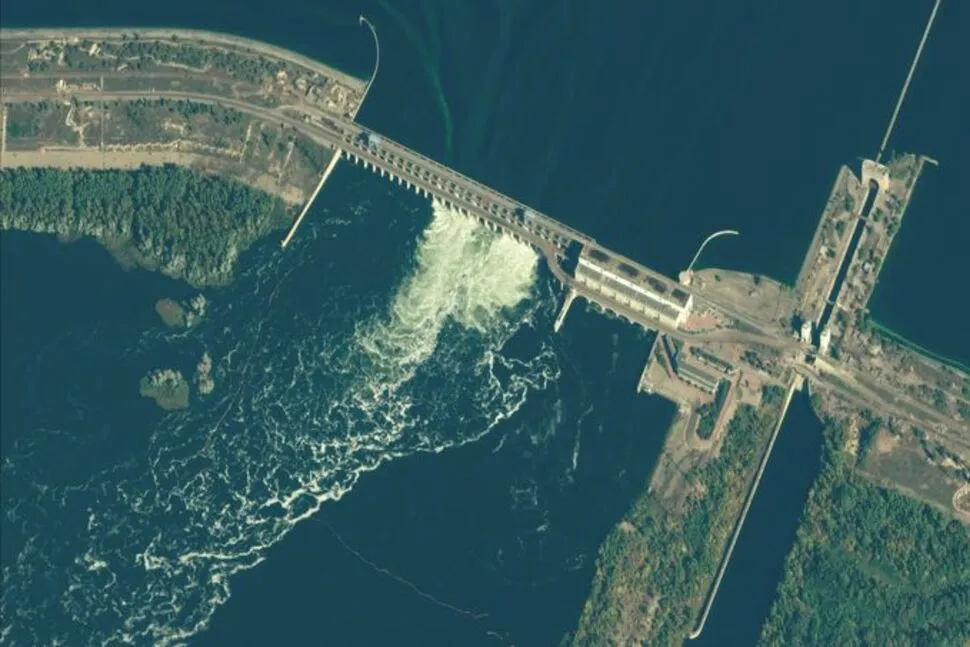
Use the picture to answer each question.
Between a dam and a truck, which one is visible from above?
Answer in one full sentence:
The image shows a dam.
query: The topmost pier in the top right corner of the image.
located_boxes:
[884,0,942,148]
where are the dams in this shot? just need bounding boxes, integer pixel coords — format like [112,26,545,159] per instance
[329,119,691,341]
